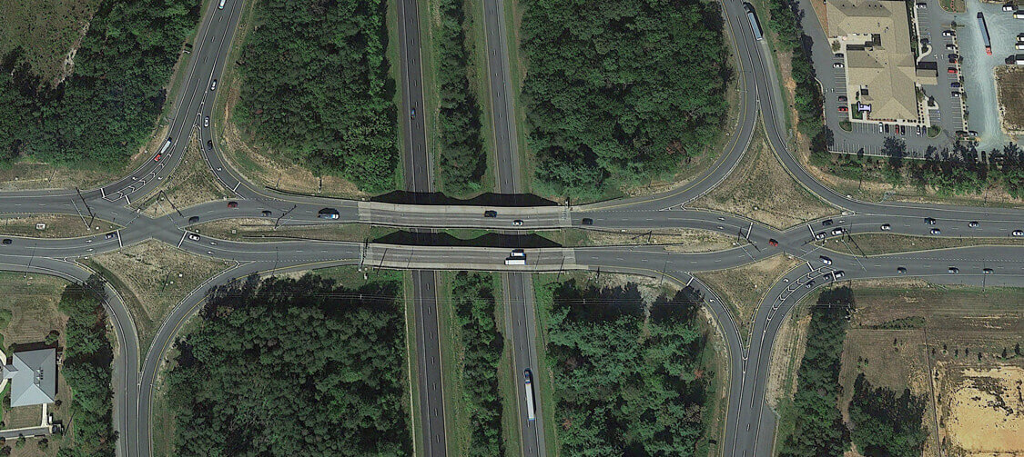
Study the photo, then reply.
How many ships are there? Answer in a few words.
0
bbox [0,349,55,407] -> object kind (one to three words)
house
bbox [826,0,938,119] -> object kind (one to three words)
building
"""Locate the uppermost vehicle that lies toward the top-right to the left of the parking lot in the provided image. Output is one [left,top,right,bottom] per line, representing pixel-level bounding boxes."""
[744,4,763,40]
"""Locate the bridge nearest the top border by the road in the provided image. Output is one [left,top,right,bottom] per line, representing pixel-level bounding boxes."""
[358,201,572,228]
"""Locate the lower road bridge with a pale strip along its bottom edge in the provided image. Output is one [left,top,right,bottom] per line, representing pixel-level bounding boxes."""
[359,243,575,271]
